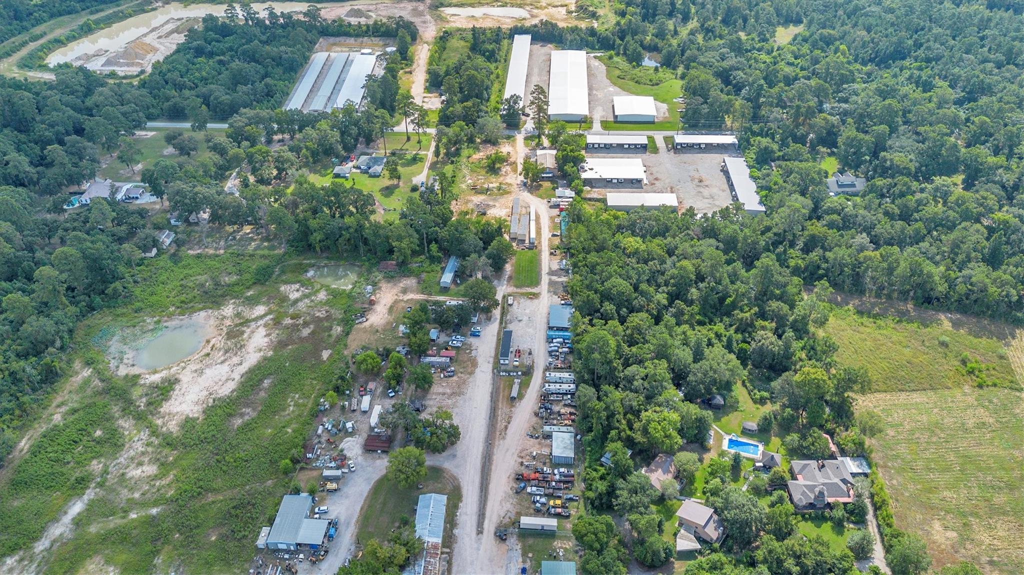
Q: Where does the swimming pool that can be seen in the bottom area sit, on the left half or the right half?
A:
right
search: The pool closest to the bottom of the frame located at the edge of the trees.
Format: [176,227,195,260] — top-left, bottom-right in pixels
[722,434,763,459]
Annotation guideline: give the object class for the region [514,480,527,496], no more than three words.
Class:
vehicle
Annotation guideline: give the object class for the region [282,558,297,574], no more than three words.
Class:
work vehicle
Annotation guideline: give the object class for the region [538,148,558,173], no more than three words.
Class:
building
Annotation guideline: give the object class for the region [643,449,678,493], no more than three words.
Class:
house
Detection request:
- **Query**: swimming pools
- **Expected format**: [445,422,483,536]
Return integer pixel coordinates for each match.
[63,195,81,208]
[722,434,763,459]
